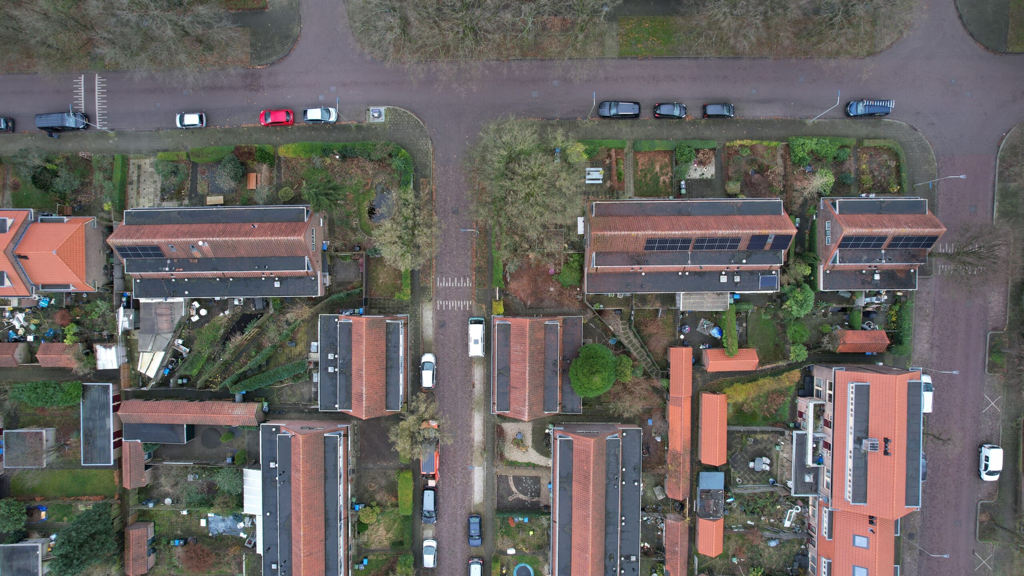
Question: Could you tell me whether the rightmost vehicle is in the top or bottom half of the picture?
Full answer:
It is in the bottom half that the rightmost vehicle appears.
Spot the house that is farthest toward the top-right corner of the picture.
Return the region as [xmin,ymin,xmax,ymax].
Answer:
[809,197,948,290]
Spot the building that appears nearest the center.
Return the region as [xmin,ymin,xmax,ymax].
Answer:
[489,315,583,422]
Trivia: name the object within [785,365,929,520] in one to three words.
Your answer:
house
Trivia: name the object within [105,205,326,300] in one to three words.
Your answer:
house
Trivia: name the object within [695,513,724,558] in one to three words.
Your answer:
shed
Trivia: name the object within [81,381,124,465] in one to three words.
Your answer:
building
